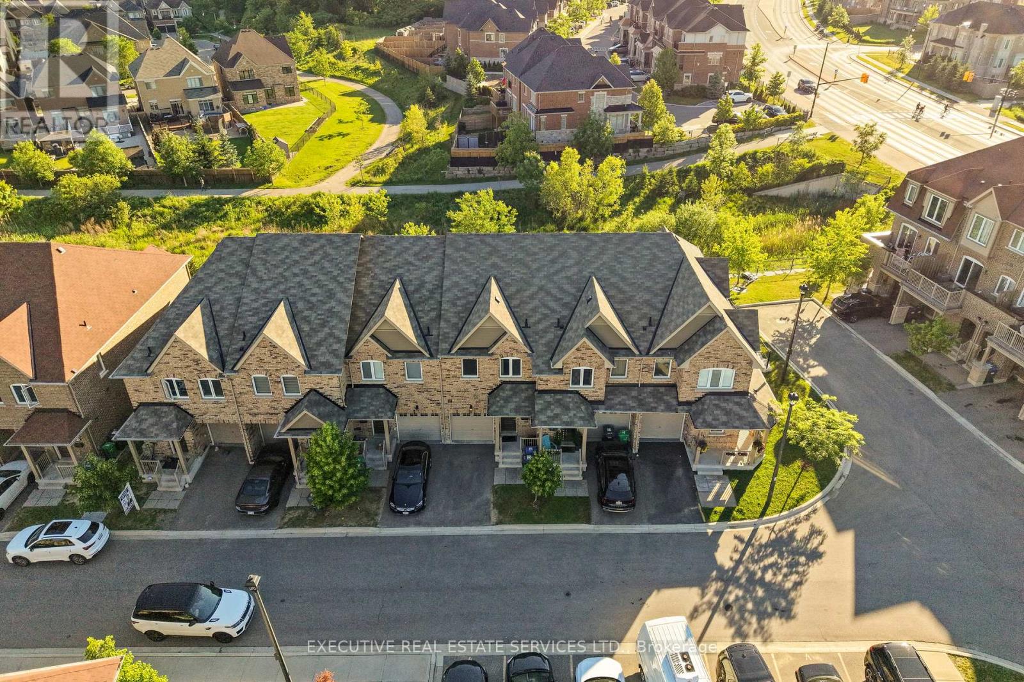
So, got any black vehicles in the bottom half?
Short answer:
Yes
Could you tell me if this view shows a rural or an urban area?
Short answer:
urban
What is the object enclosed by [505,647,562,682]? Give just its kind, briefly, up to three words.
car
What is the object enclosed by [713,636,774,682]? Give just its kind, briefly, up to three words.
car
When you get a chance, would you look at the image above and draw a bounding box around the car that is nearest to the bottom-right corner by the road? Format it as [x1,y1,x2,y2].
[861,627,941,682]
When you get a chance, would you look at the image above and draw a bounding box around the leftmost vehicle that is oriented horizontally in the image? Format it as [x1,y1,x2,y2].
[1,514,113,564]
